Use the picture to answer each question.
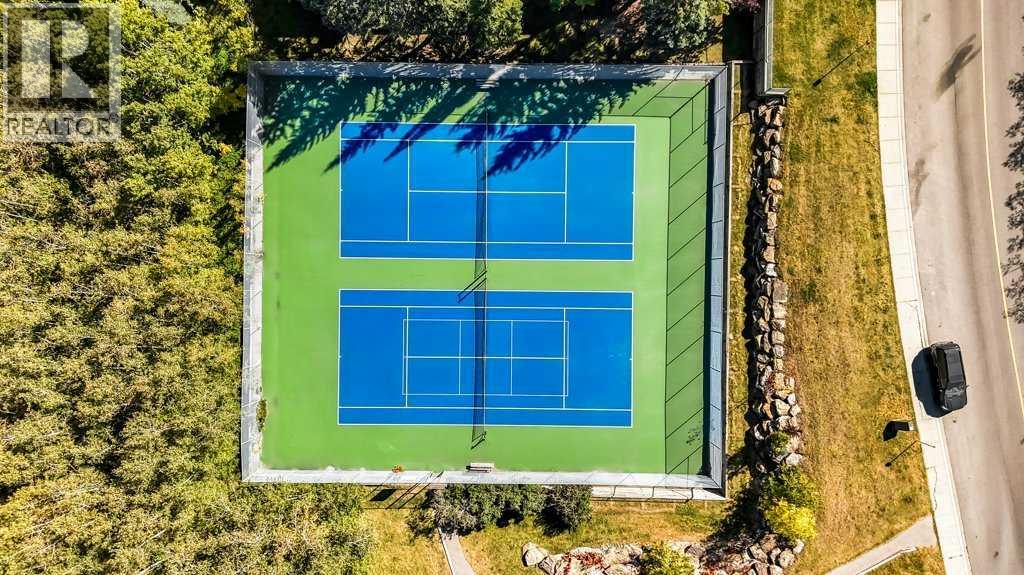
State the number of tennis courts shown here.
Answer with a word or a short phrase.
2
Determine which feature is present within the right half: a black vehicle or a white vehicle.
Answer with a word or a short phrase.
black vehicle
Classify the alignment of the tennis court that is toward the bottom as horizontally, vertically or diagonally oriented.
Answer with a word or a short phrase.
horizontally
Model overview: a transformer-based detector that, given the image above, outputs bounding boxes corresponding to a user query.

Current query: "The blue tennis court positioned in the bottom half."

[338,289,634,427]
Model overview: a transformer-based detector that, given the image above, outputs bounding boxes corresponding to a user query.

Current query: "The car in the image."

[929,341,972,412]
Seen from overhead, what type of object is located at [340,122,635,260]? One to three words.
tennis court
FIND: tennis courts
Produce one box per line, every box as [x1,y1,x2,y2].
[338,289,634,427]
[340,122,635,260]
